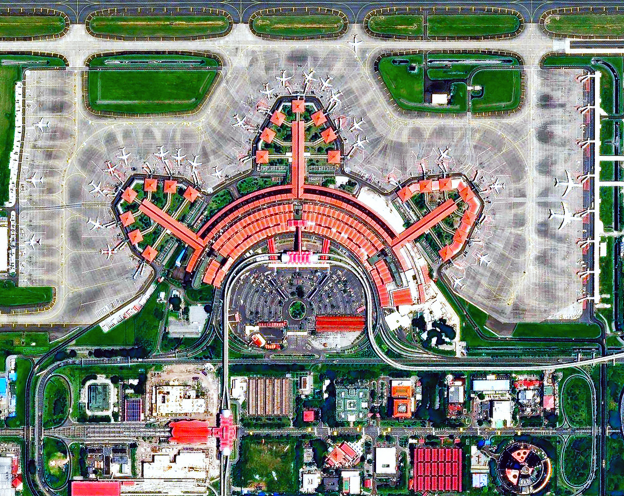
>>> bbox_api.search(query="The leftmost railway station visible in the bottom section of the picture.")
[212,408,236,457]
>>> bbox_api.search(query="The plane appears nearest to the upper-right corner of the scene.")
[555,171,582,196]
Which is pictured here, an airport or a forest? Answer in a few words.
airport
